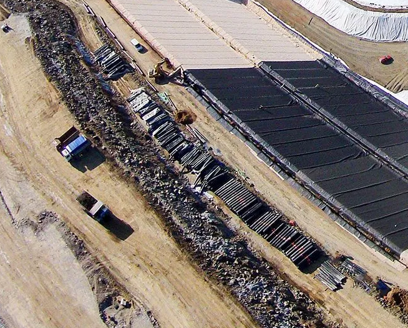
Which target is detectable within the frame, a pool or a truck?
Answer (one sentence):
The image shows a truck.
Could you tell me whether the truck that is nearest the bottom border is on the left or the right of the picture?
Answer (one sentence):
The truck that is nearest the bottom border sits on the left side.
